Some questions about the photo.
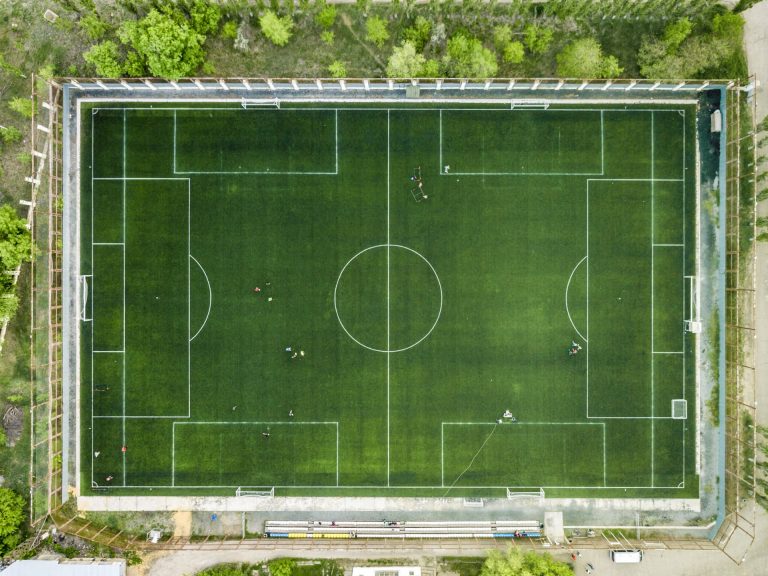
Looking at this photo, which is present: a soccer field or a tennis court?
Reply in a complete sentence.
The image shows a soccer field.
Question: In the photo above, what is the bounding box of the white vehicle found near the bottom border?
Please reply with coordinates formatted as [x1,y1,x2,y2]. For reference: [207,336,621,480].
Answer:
[608,546,639,562]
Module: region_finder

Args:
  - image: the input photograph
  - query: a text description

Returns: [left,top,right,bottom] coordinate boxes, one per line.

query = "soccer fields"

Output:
[80,103,700,497]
